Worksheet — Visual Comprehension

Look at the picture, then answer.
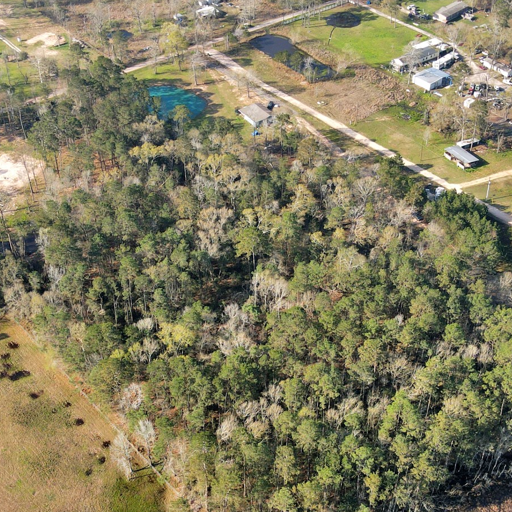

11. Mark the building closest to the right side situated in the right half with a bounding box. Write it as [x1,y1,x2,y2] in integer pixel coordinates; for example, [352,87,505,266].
[483,57,512,78]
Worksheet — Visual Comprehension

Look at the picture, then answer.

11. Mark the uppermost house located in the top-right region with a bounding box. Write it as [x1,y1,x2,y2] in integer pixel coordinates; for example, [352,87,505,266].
[429,2,470,26]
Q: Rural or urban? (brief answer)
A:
rural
